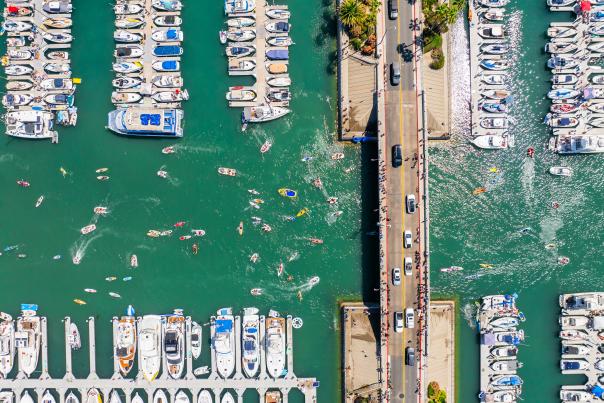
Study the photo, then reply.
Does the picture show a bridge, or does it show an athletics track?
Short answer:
bridge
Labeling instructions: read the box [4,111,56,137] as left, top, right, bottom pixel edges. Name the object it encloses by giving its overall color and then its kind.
white boat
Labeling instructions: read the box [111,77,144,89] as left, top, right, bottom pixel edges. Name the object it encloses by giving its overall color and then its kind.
white boat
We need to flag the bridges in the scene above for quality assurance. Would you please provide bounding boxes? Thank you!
[377,90,431,356]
